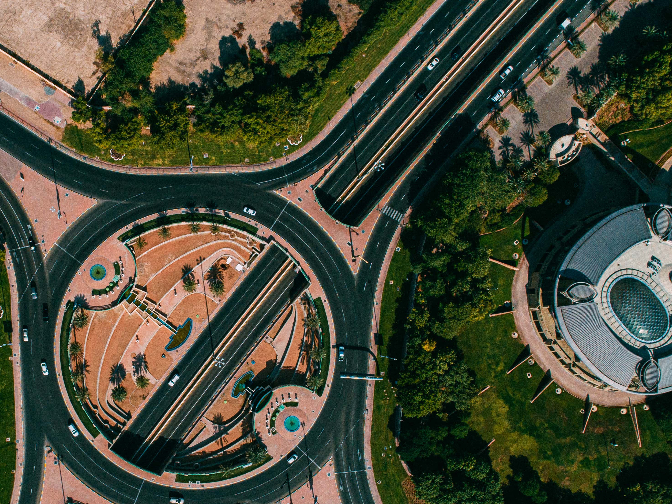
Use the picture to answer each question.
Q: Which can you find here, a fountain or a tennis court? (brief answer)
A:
fountain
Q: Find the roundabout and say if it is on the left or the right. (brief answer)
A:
left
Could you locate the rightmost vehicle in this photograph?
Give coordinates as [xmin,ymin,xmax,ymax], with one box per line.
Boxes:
[556,13,574,31]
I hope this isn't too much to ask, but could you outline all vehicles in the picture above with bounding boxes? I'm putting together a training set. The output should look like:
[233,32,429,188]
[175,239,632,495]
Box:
[499,65,514,80]
[167,371,180,385]
[450,46,462,60]
[169,497,184,504]
[490,85,504,99]
[338,346,345,362]
[30,284,38,299]
[28,236,36,251]
[242,206,257,216]
[427,57,439,70]
[23,327,28,341]
[556,13,574,31]
[286,454,298,464]
[67,422,79,437]
[41,361,49,376]
[289,264,300,277]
